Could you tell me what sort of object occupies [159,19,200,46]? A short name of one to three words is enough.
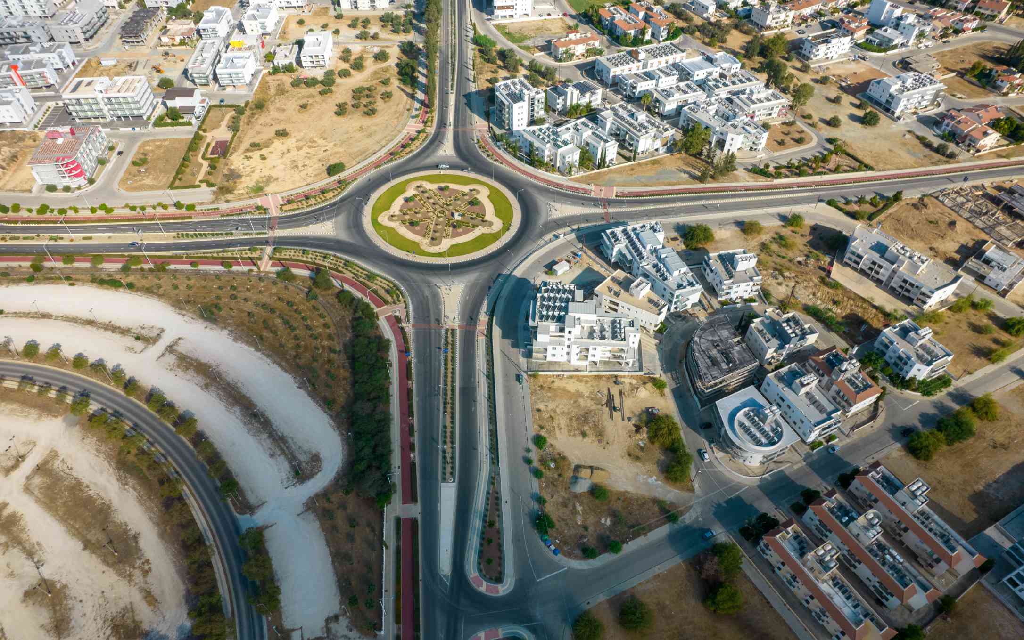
house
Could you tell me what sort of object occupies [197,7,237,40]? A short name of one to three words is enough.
building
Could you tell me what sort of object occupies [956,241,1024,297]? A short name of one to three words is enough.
house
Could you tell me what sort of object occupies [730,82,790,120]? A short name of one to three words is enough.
building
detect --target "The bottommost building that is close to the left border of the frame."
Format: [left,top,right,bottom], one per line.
[28,123,112,192]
